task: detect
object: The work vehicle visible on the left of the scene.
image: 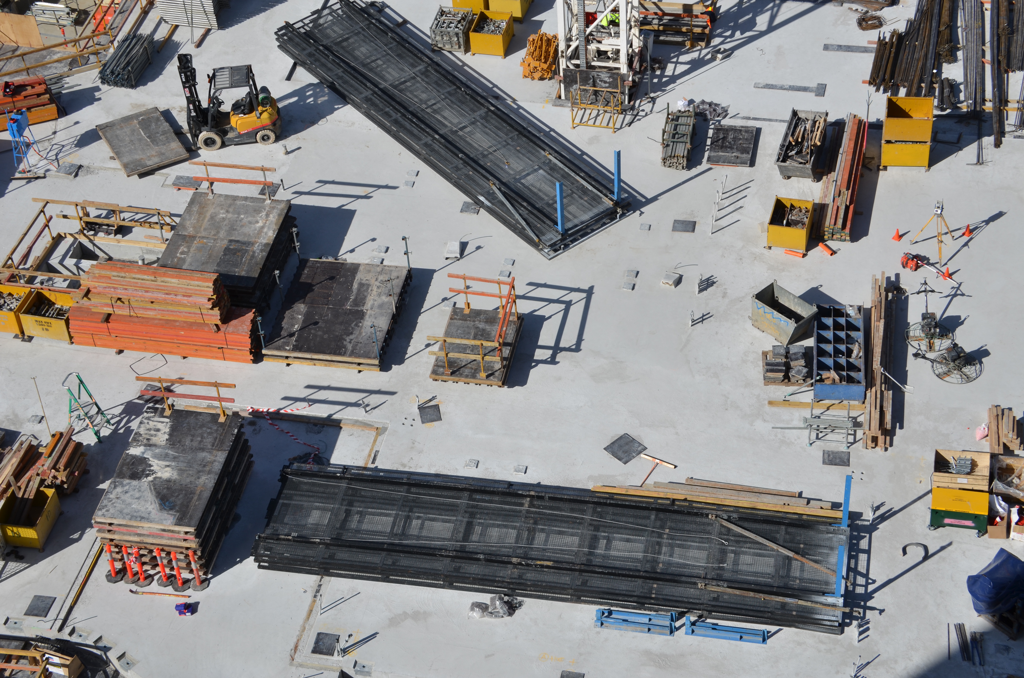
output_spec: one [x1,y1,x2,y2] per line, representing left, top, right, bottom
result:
[175,39,281,153]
